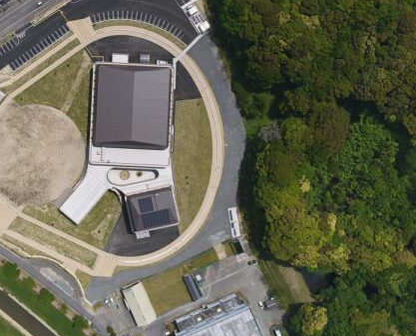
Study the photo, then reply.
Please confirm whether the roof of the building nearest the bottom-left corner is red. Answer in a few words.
No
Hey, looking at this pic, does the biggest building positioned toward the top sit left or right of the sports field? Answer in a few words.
to its right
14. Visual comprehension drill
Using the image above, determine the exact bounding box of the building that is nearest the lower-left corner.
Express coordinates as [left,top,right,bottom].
[122,280,157,328]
